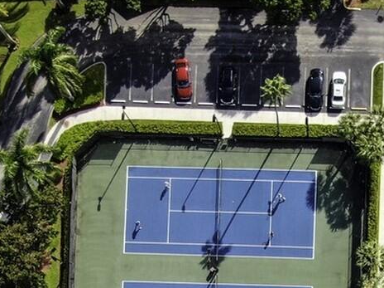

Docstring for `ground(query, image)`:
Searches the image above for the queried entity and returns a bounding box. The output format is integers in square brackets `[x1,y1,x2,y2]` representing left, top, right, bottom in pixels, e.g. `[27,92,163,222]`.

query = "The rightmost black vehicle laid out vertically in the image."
[306,71,323,111]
